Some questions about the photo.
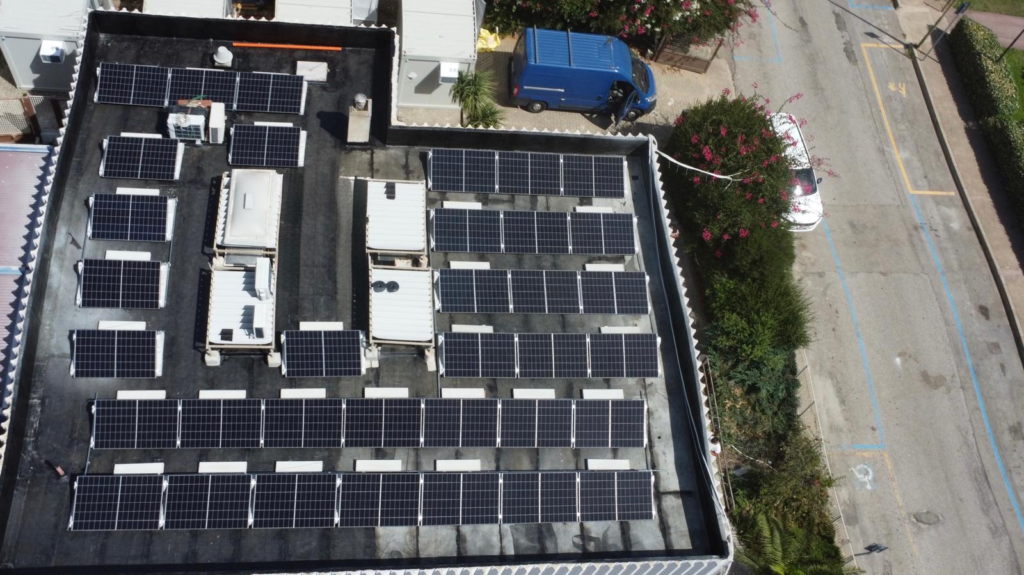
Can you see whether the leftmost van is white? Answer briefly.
No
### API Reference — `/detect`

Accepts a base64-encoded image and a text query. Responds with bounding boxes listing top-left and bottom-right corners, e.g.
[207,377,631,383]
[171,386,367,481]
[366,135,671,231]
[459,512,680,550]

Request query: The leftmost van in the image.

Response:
[507,16,659,130]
